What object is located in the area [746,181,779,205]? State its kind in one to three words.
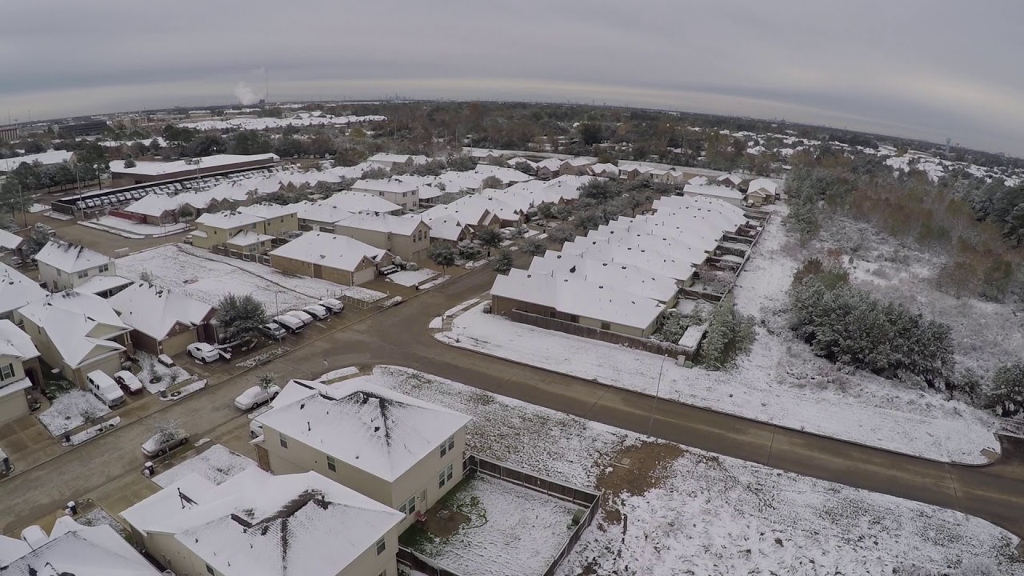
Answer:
house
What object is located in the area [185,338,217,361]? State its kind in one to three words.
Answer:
car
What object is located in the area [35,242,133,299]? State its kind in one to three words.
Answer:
house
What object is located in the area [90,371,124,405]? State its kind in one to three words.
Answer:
vehicle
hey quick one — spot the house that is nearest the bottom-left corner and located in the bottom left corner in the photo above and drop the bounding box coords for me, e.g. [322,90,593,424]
[0,492,160,576]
